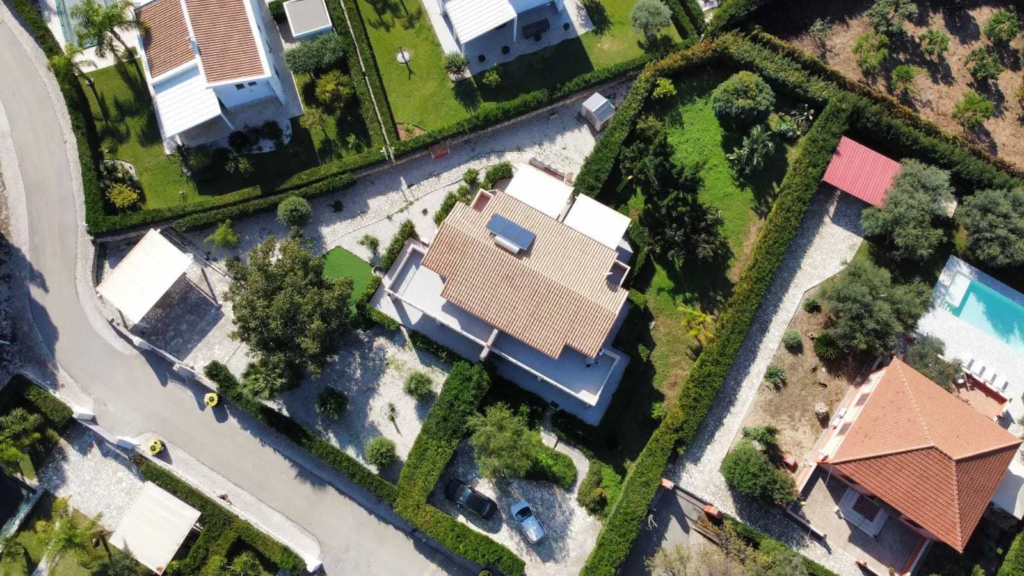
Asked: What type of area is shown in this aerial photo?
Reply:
residential area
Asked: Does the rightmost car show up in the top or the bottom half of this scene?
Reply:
bottom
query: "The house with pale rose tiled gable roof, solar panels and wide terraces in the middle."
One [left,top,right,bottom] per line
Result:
[386,188,632,406]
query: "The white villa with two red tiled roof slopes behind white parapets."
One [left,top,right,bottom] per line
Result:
[128,0,289,119]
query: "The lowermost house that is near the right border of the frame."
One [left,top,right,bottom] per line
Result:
[789,356,1024,576]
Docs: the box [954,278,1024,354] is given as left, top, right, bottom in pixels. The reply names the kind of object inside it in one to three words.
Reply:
swimming pool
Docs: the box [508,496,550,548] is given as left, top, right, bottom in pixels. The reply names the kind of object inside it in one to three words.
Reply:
car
